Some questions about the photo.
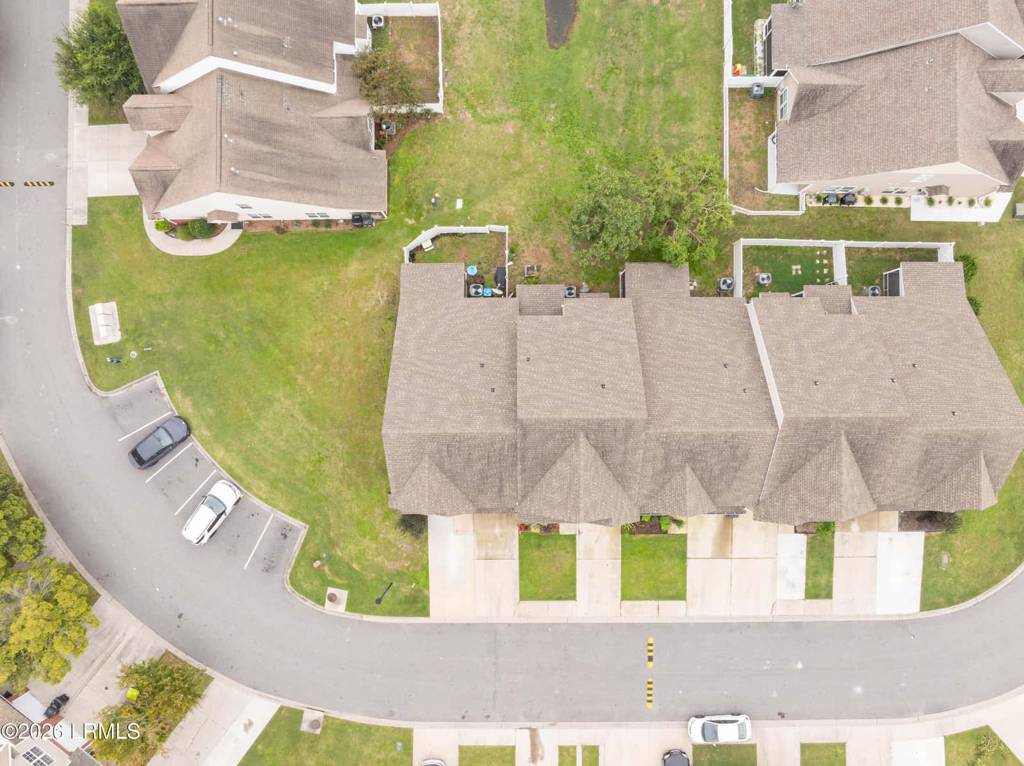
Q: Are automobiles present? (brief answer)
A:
Yes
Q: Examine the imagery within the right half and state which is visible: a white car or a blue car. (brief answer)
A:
white car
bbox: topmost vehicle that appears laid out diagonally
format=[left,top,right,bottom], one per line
[127,419,196,472]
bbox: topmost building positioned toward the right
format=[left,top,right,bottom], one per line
[761,0,1024,204]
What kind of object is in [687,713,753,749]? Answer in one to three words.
car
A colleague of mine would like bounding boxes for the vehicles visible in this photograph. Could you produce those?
[182,479,246,547]
[42,693,70,720]
[662,749,690,766]
[127,419,196,472]
[687,713,753,749]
